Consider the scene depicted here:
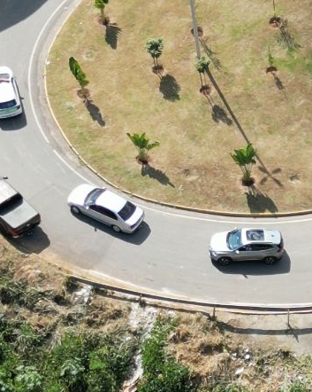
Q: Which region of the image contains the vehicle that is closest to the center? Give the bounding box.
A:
[63,182,143,238]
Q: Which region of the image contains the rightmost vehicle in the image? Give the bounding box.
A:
[205,224,288,267]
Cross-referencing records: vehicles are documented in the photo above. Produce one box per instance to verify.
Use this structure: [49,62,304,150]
[0,178,40,245]
[205,224,288,267]
[63,182,143,238]
[0,70,22,128]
